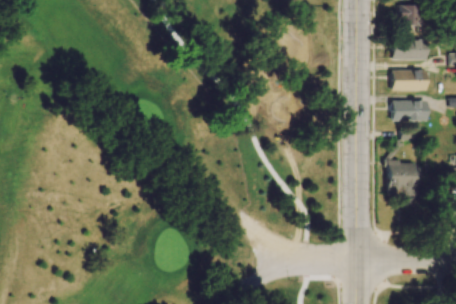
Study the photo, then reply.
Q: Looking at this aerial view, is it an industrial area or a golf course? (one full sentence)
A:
What you see here is a golf course.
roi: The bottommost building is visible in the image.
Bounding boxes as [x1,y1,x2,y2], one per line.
[387,161,420,197]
